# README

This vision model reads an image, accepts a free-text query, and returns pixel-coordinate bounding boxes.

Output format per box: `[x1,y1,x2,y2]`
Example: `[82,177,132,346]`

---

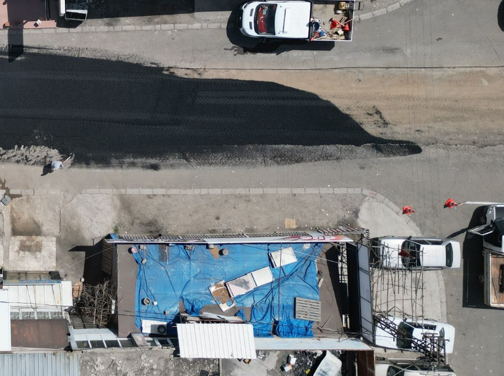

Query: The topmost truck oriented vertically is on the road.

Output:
[457,202,504,309]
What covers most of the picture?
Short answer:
paved ground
